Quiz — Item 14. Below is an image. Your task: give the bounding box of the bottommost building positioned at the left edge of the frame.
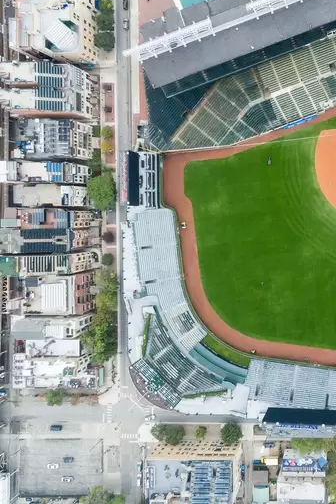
[12,348,107,389]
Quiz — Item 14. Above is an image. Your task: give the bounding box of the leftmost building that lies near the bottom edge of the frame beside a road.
[148,443,241,504]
